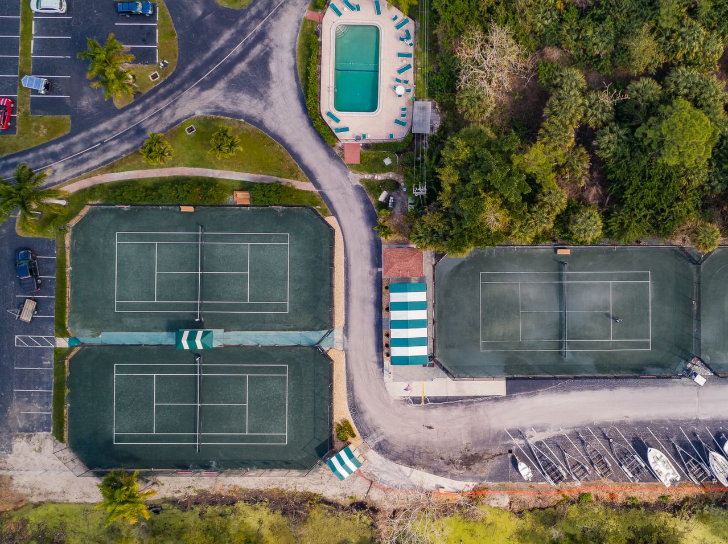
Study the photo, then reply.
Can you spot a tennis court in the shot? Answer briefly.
Yes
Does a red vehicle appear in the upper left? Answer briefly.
Yes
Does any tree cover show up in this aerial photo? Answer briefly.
Yes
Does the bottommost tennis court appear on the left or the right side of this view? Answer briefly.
left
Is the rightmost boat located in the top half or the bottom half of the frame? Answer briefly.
bottom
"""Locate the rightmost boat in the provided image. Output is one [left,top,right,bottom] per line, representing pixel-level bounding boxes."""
[706,445,728,486]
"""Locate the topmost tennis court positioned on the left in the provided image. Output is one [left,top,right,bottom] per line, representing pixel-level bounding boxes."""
[70,205,333,337]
